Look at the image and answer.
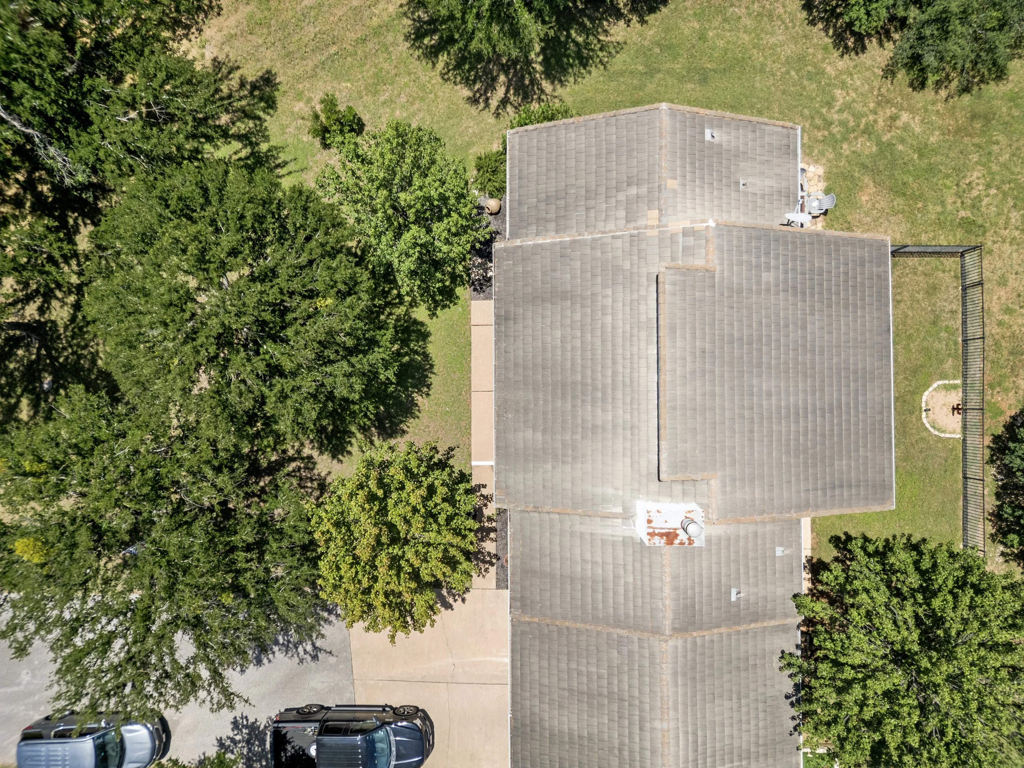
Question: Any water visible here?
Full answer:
No, there's no water in this view.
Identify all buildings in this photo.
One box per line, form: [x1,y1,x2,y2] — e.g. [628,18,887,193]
[492,103,896,768]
